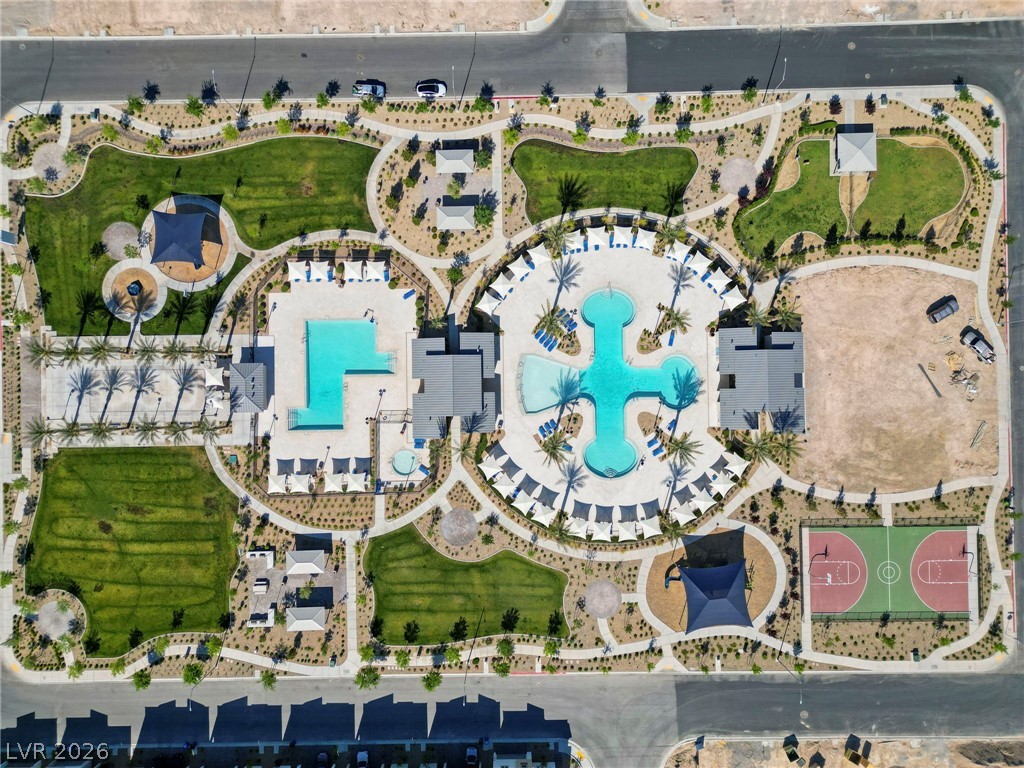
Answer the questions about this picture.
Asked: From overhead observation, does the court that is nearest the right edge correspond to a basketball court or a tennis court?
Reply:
basketball court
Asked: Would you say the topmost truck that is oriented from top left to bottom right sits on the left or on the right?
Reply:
right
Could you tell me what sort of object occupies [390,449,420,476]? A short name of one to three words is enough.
swimming pool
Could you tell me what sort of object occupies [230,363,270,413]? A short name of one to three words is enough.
building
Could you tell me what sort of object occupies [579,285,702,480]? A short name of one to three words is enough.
swimming pool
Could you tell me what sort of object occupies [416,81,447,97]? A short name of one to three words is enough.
car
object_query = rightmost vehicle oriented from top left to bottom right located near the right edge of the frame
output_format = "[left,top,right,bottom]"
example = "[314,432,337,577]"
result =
[960,330,998,364]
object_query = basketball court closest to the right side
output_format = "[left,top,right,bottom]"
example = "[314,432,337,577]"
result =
[810,527,968,620]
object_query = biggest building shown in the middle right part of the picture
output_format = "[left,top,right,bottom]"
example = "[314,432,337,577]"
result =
[714,328,806,434]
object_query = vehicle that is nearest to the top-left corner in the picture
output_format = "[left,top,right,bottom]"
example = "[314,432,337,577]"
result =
[350,81,386,98]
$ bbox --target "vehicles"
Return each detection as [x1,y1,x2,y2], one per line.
[354,750,369,768]
[926,298,960,321]
[416,81,447,97]
[464,744,478,768]
[960,330,998,364]
[350,81,386,98]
